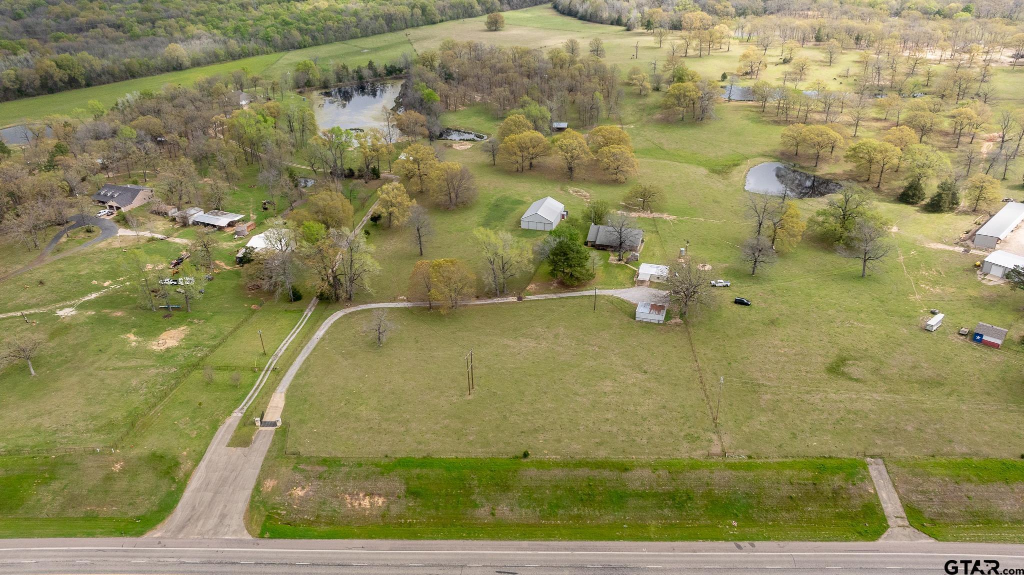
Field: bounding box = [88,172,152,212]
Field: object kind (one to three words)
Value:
house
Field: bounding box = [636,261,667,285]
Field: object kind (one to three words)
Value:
building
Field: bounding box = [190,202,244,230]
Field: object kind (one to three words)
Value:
building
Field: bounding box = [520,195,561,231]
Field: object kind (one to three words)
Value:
barn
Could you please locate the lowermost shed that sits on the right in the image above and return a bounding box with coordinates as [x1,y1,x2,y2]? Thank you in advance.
[973,321,1007,348]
